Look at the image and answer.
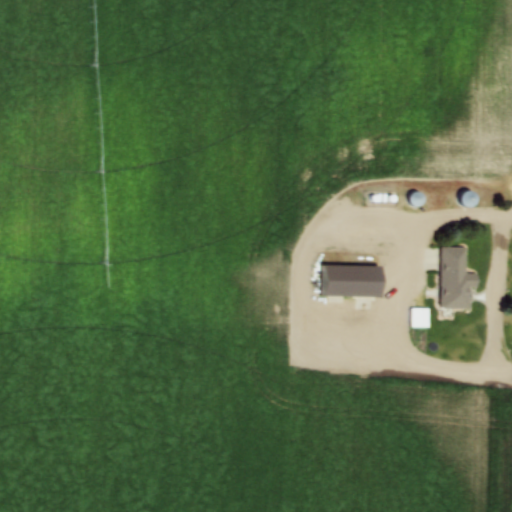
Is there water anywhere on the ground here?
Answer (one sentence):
No, there is no water in the image.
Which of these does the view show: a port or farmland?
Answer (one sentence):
The area seen from above is farmland.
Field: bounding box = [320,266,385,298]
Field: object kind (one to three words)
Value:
shed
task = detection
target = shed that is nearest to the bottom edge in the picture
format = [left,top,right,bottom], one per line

[410,308,430,328]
